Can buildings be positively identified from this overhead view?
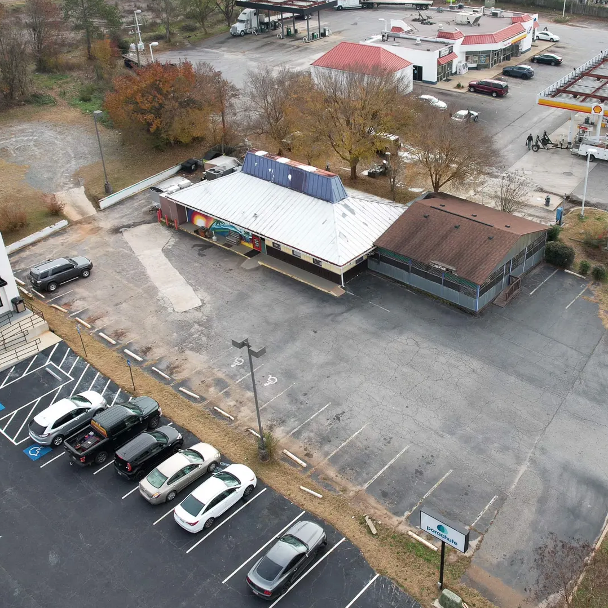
Yes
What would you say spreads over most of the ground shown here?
paved ground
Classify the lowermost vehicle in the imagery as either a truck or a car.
car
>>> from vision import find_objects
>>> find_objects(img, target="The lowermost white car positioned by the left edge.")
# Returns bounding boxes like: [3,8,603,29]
[28,391,115,448]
